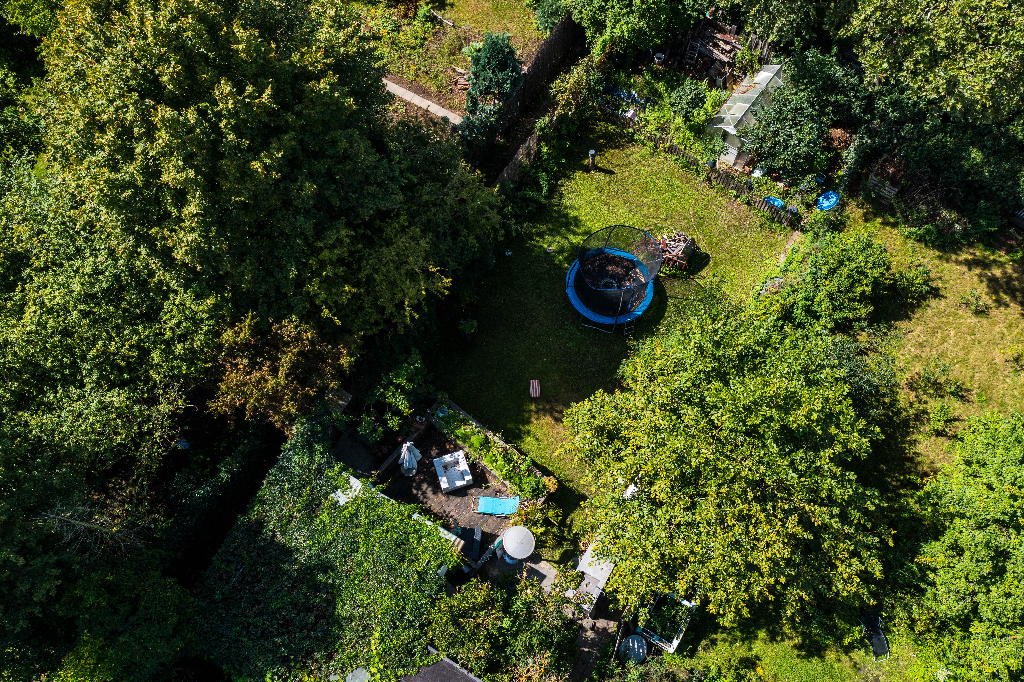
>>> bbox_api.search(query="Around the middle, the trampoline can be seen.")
[562,224,662,340]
